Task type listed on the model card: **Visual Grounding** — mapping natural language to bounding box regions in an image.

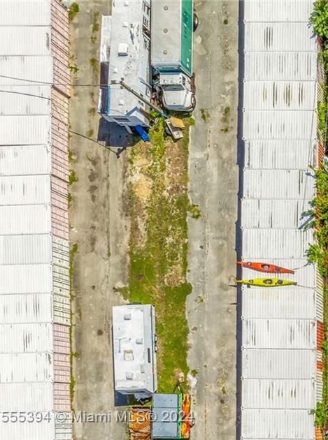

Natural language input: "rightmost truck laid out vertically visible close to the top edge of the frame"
[151,0,201,129]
